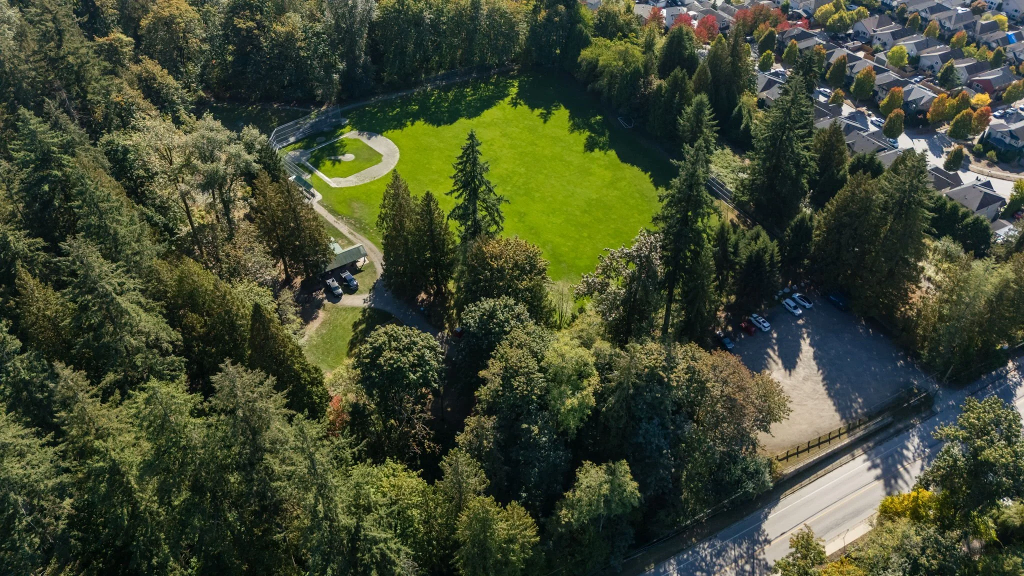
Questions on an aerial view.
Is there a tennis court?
No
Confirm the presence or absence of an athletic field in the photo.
Yes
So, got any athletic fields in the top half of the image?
Yes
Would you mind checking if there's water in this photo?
No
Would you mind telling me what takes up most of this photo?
trees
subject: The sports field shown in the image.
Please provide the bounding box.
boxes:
[286,72,721,318]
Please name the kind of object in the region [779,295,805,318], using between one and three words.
car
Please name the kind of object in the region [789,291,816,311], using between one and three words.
car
